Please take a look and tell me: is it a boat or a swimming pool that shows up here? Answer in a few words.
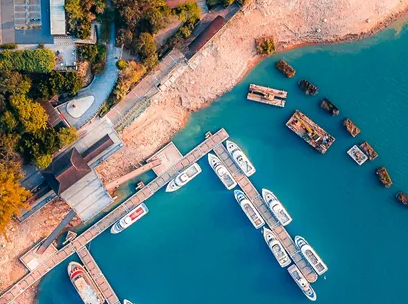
boat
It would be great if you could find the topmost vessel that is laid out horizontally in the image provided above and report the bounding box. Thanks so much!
[245,82,288,108]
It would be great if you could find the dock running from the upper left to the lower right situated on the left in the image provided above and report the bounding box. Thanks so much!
[73,248,117,304]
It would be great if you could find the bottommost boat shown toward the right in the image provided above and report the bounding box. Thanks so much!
[287,263,316,303]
